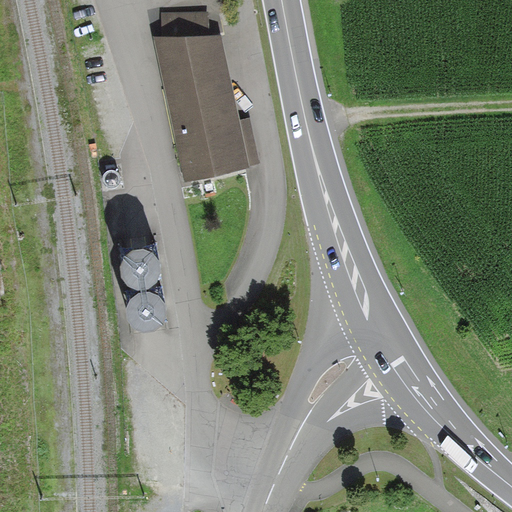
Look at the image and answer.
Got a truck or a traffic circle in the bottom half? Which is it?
truck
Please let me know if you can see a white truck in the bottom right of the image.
Yes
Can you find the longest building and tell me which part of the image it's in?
top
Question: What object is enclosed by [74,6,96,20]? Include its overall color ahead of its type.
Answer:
gray car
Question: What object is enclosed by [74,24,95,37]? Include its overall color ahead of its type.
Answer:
white vehicle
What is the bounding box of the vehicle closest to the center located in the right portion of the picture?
[328,247,340,270]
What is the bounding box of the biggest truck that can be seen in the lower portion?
[440,436,480,474]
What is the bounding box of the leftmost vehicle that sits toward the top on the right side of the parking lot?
[231,78,254,111]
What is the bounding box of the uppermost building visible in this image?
[152,11,258,182]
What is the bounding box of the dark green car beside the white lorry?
[474,445,493,466]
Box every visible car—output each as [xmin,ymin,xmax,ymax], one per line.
[268,8,280,32]
[312,98,324,123]
[328,247,340,270]
[74,6,96,20]
[290,114,302,138]
[86,73,106,84]
[474,445,493,466]
[74,24,95,37]
[84,57,104,68]
[375,350,390,374]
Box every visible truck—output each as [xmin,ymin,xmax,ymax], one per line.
[440,436,480,474]
[231,78,254,111]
